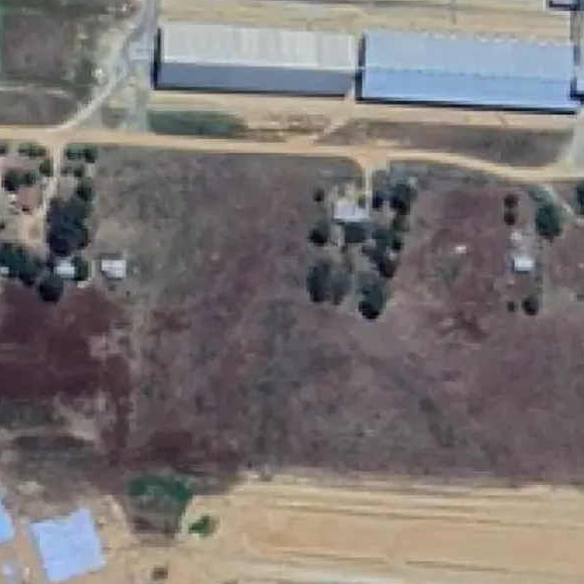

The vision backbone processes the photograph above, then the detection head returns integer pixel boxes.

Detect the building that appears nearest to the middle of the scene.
[334,201,369,221]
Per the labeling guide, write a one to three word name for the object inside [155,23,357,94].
building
